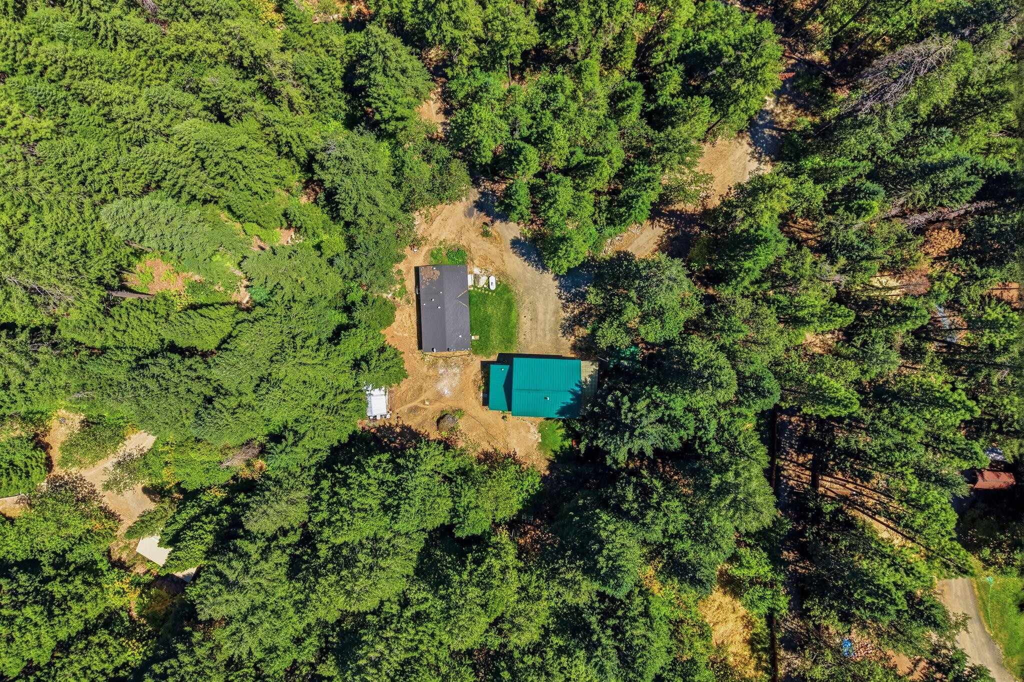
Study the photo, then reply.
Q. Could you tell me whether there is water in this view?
No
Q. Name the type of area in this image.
forest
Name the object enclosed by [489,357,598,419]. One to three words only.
building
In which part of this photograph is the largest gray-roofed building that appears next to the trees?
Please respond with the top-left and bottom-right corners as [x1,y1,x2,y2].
[419,264,472,353]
